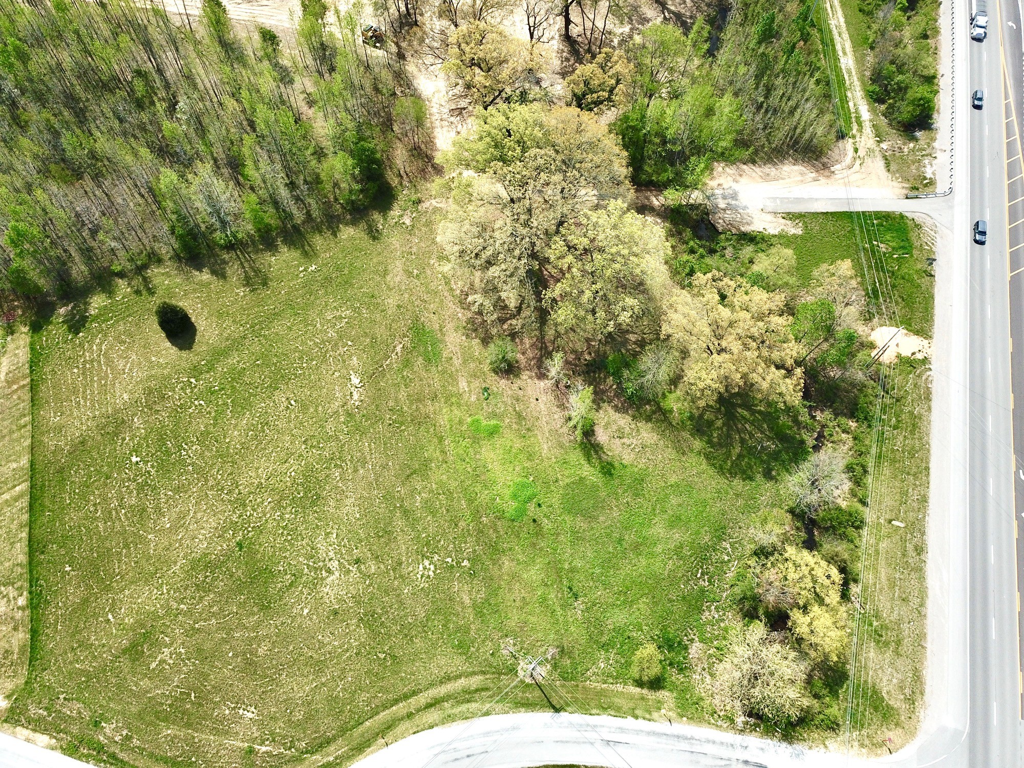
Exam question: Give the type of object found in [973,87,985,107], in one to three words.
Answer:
vehicle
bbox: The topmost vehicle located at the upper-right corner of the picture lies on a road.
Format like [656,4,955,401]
[972,0,992,40]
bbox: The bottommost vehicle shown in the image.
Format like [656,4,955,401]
[974,218,988,242]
